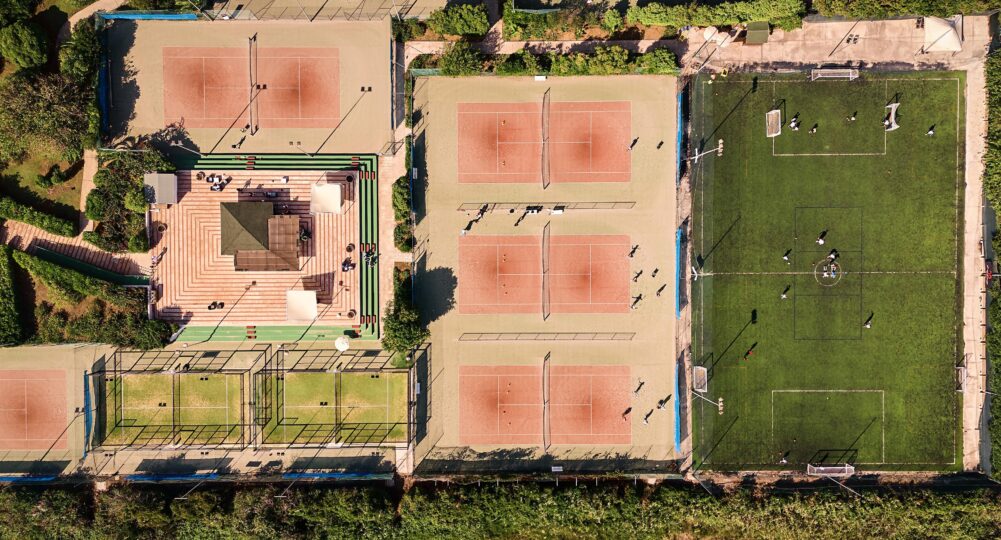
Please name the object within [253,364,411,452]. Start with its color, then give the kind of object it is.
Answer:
yellow sports court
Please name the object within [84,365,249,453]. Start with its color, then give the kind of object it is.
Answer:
yellow sports court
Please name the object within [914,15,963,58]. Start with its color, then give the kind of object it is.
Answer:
white tent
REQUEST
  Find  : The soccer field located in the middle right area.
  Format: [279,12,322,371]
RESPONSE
[692,70,966,472]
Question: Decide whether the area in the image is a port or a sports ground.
sports ground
